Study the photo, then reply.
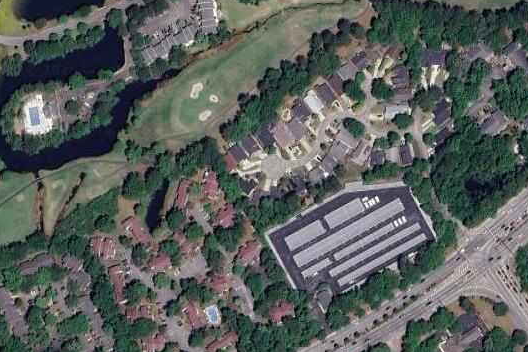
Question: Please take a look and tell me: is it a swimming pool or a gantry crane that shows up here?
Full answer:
There is a swimming pool in the scene.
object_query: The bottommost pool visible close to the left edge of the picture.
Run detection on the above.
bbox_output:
[24,94,52,135]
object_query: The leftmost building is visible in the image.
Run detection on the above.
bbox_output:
[0,284,27,340]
